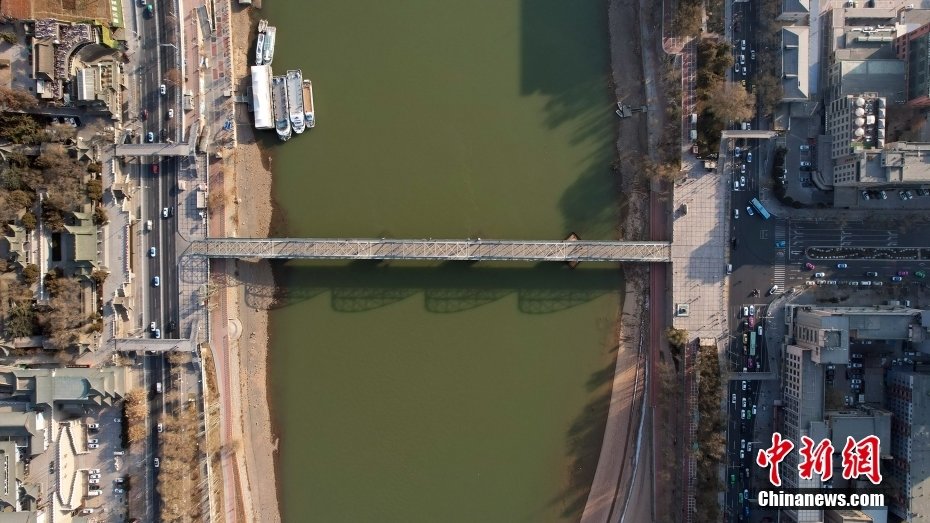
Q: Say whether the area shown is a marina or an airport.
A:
marina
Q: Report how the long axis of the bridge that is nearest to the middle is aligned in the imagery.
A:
from left to right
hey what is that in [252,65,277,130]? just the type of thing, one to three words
pier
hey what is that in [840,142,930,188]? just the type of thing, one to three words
building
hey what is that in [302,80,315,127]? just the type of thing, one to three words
boat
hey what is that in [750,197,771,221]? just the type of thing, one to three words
bus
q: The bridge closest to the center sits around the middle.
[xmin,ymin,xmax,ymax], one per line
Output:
[192,233,672,268]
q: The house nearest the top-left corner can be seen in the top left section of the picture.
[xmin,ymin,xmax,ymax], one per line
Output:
[34,38,57,80]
